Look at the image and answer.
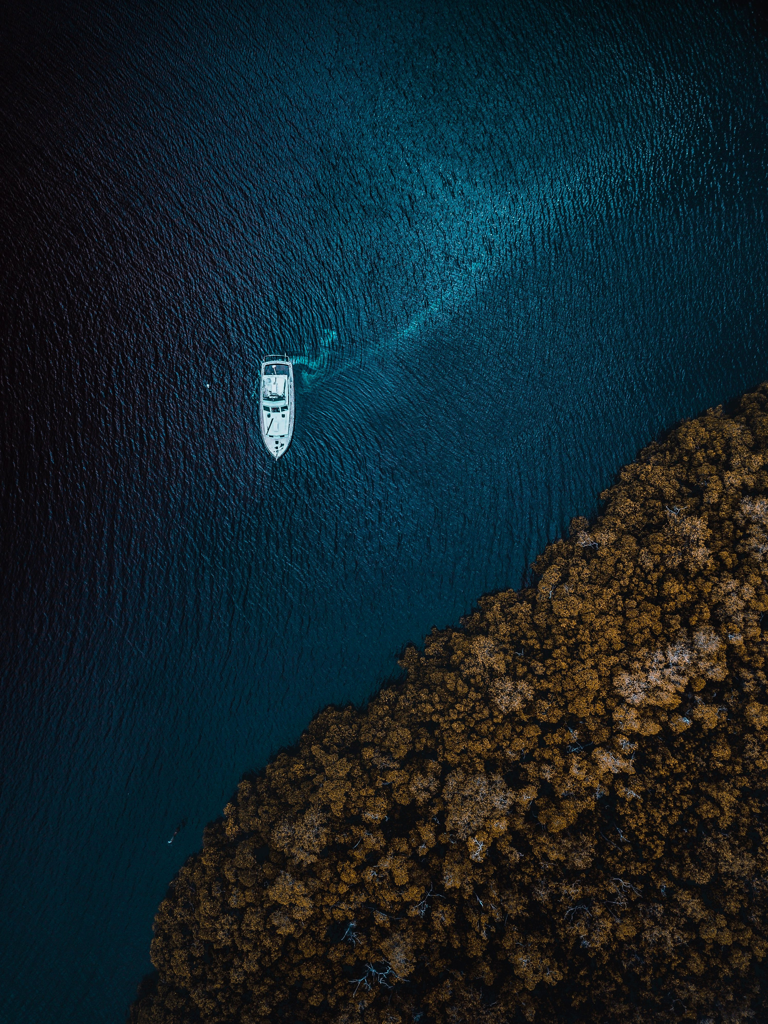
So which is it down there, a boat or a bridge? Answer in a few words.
boat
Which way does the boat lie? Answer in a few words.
from top to bottom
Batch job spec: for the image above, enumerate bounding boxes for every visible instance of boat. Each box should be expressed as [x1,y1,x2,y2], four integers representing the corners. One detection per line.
[259,353,296,461]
